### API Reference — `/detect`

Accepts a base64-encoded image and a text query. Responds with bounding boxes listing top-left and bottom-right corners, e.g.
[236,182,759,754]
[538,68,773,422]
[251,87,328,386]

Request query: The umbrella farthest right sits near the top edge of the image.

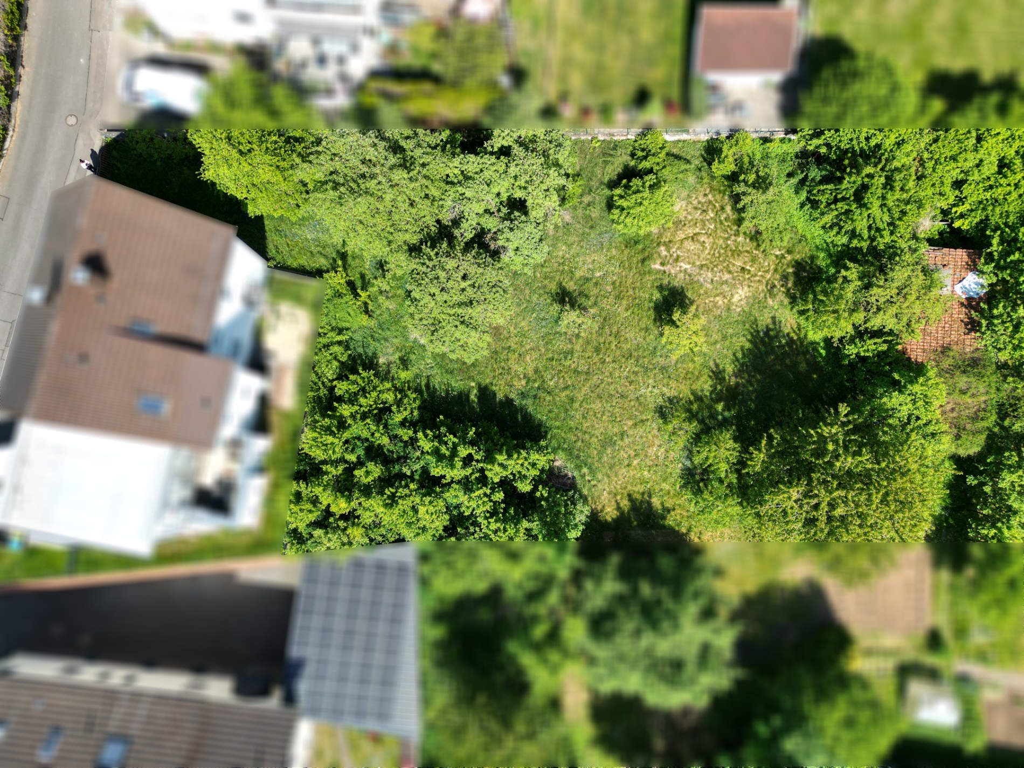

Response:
[462,0,495,27]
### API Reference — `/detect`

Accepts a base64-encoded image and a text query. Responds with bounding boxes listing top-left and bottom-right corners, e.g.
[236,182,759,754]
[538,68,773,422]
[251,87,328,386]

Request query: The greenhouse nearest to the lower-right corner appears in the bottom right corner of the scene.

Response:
[900,668,964,722]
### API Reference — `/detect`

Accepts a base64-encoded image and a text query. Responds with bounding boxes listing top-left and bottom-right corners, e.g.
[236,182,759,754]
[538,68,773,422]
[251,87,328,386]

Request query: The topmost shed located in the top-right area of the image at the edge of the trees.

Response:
[690,3,799,91]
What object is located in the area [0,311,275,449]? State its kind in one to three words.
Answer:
house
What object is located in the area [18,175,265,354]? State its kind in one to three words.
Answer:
house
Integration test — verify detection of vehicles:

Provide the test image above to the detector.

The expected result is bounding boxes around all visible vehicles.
[128,66,213,118]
